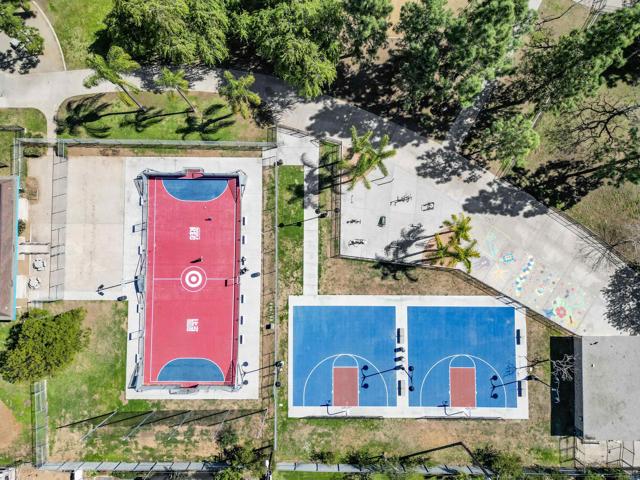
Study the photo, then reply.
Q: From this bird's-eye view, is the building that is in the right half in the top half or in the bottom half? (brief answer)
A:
bottom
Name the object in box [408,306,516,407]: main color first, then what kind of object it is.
blue basketball court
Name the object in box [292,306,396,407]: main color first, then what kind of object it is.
blue basketball court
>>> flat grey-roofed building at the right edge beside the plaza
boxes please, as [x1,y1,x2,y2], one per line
[573,336,640,443]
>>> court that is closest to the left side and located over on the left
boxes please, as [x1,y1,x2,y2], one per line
[129,170,249,399]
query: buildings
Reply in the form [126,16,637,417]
[0,174,19,321]
[573,336,640,443]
